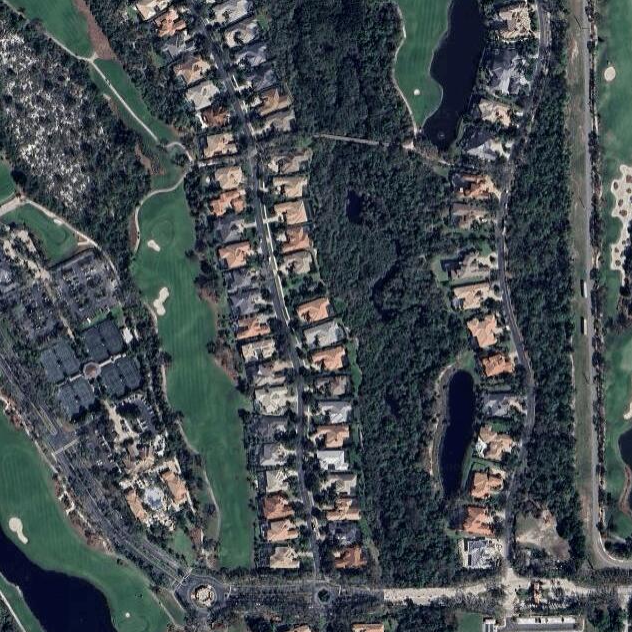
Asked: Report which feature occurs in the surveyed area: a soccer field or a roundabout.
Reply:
roundabout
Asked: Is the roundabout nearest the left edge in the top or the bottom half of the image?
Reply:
bottom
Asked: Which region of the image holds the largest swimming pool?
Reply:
bottom left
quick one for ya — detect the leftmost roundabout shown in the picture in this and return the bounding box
[176,571,232,620]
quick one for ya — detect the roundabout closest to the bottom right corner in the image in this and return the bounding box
[311,580,340,610]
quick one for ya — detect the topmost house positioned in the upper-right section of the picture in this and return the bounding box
[491,3,535,38]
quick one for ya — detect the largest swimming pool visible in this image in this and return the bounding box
[145,487,165,508]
